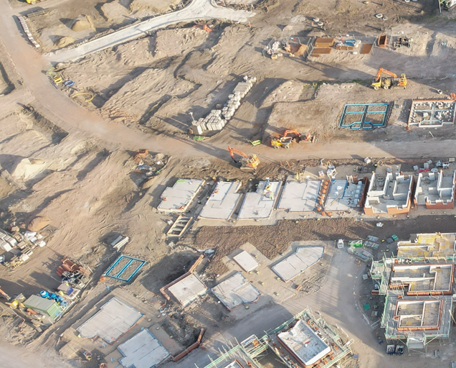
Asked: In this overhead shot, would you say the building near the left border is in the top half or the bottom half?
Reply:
bottom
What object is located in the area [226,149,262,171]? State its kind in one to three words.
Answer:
work vehicle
